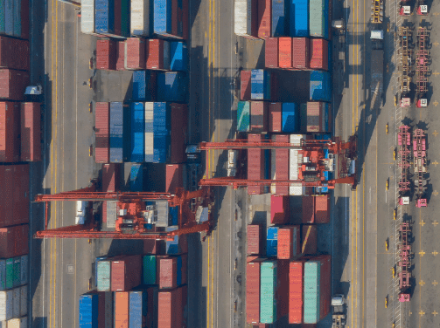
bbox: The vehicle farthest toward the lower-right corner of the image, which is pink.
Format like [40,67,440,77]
[398,276,410,303]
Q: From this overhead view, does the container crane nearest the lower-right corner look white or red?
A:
red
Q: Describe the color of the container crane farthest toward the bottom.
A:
red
